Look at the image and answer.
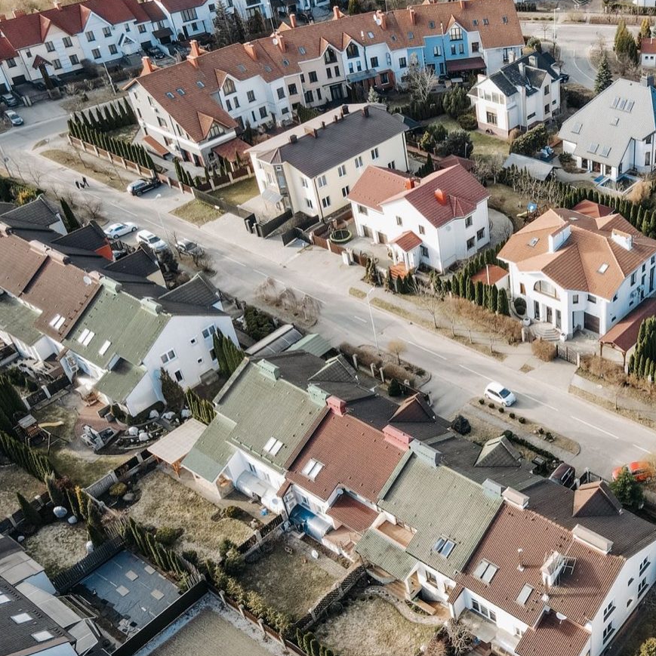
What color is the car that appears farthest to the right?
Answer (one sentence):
In this view, the car that appears farthest to the right is red.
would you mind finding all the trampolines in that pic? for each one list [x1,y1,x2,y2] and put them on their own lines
[329,228,353,242]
